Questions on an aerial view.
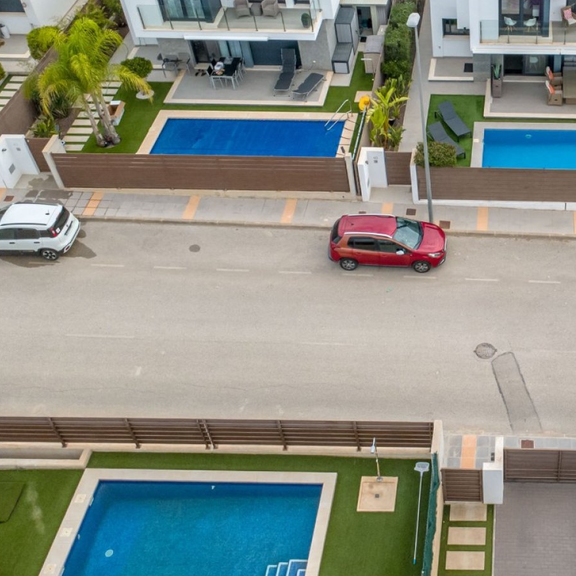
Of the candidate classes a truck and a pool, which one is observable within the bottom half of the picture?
pool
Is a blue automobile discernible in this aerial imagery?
No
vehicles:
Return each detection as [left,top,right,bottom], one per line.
[324,213,448,275]
[0,200,81,261]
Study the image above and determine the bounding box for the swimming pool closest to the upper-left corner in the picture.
[136,111,357,166]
